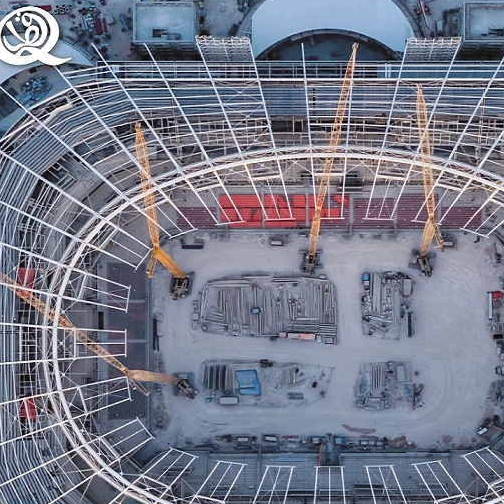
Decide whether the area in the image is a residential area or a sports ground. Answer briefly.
sports ground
